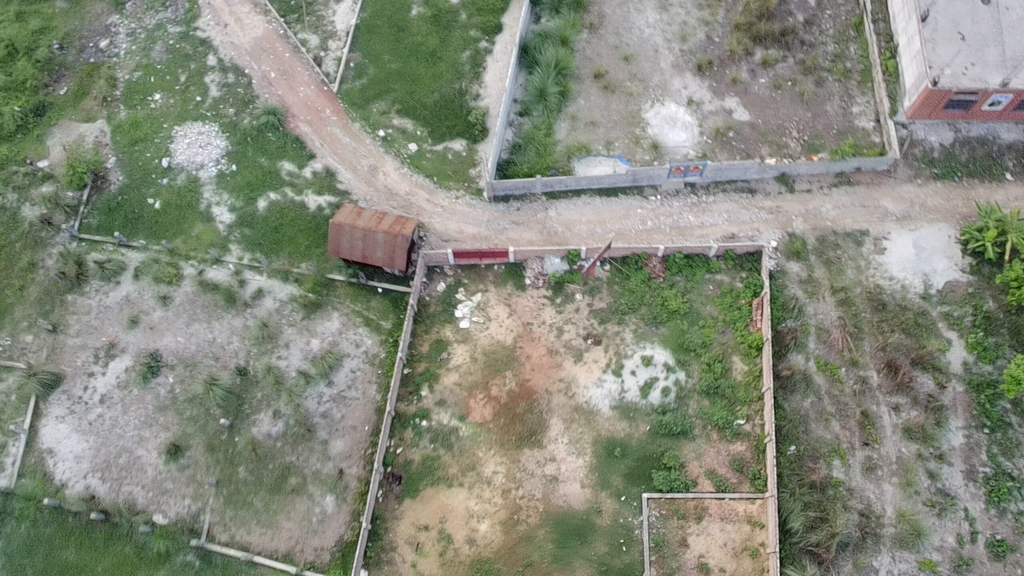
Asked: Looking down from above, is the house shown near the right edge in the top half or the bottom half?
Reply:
top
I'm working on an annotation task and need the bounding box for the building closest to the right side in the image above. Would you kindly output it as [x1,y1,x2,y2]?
[879,0,1024,126]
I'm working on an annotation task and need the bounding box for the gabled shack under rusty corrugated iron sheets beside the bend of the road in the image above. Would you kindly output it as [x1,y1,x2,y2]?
[328,203,419,280]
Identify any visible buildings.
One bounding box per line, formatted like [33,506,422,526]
[328,203,419,280]
[879,0,1024,126]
